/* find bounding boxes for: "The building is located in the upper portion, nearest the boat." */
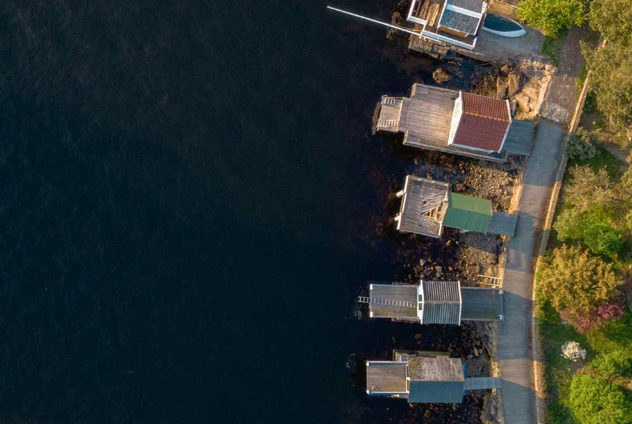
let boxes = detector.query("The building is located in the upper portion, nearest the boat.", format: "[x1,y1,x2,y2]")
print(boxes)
[403,0,487,51]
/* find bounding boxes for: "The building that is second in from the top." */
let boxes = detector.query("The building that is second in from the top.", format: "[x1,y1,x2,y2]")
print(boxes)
[374,83,520,163]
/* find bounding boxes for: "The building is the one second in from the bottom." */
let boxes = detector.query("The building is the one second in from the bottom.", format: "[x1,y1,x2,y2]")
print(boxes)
[361,279,504,326]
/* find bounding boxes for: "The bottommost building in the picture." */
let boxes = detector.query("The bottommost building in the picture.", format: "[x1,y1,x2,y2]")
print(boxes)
[361,351,465,404]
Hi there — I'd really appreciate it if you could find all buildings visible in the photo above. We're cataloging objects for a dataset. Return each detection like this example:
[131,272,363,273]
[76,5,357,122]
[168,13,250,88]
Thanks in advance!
[391,175,494,237]
[361,351,465,404]
[403,0,487,51]
[374,83,520,163]
[361,279,504,326]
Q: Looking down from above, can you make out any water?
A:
Yes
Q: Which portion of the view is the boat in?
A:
top right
